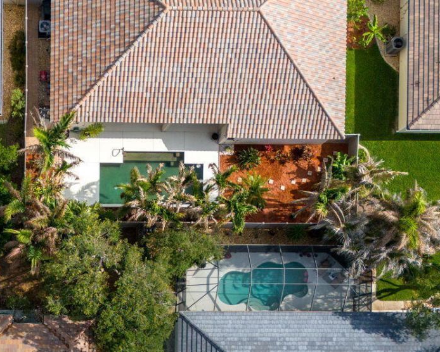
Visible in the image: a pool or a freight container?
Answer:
pool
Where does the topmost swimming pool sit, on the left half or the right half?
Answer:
left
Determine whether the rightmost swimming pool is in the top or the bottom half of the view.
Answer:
bottom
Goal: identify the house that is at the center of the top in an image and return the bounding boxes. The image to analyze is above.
[49,0,348,144]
